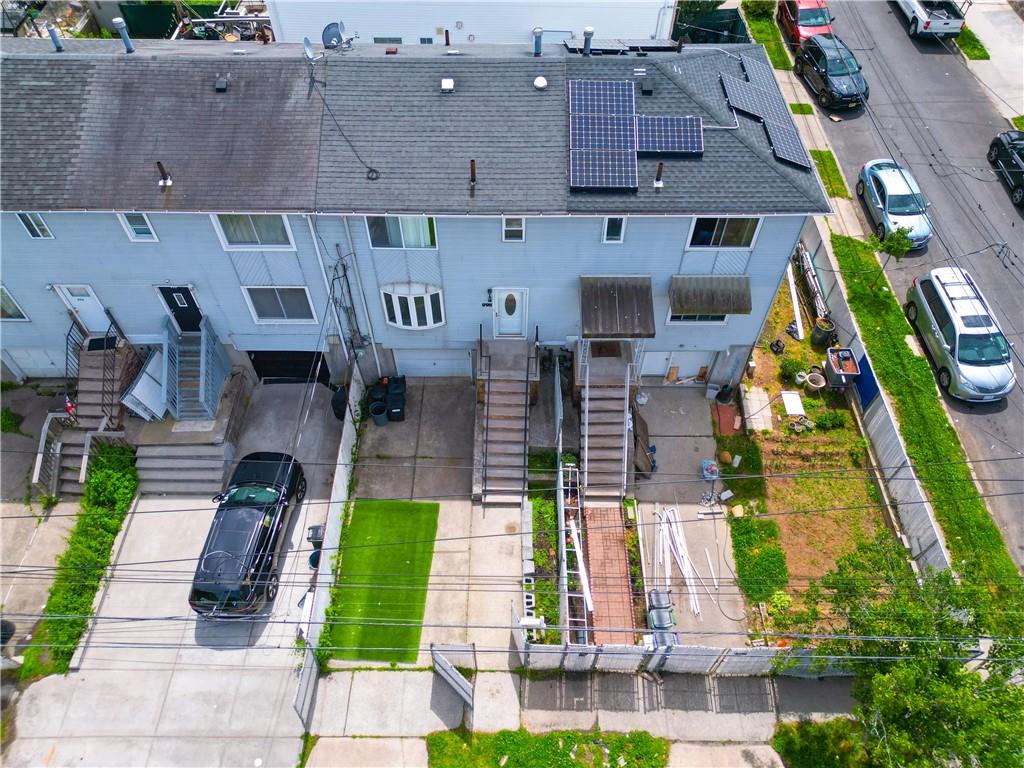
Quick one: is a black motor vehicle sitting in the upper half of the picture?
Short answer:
Yes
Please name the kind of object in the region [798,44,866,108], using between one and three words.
car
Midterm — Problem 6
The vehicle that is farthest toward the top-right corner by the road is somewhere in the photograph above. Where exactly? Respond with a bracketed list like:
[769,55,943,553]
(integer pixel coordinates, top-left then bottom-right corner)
[885,0,961,36]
